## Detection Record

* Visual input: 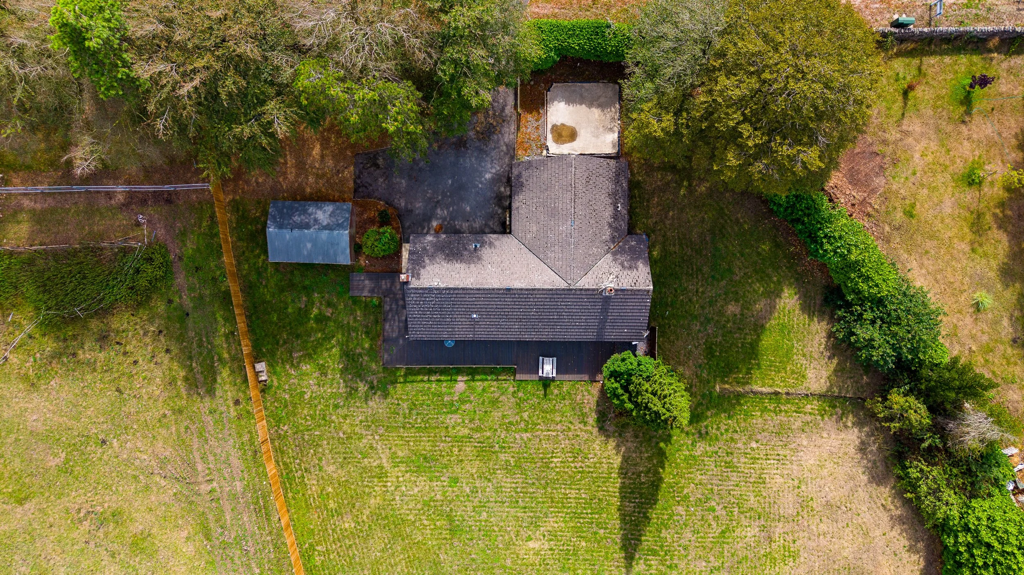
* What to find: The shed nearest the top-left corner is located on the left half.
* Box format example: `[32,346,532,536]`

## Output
[266,200,358,265]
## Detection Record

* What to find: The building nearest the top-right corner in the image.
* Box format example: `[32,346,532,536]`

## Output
[399,154,654,342]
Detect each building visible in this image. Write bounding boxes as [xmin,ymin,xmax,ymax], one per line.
[399,154,654,342]
[266,200,358,265]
